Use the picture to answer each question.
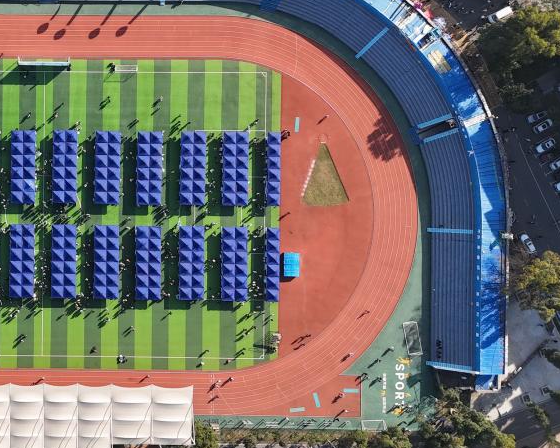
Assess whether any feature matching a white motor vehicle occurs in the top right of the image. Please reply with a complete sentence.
Yes, you'll find a white motor vehicle in the top right of the image.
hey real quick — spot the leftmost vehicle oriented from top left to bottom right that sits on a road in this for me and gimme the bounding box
[518,234,535,252]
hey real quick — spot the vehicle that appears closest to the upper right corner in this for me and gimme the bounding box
[485,4,515,23]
